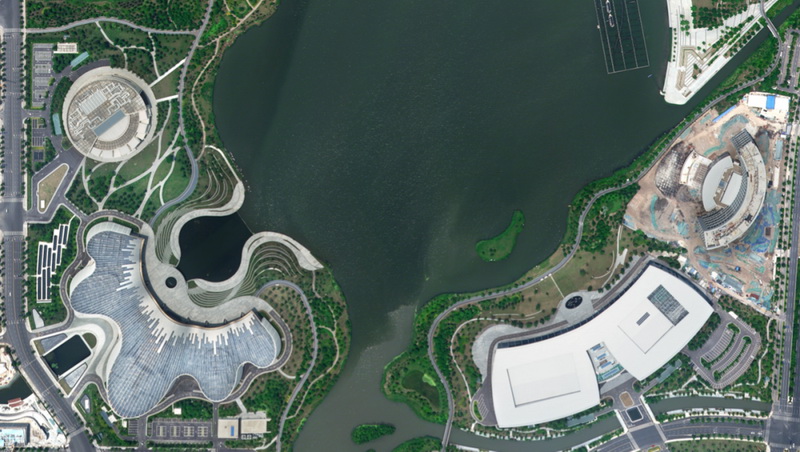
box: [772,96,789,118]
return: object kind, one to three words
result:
building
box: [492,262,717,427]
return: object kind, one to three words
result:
building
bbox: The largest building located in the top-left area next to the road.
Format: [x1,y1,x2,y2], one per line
[62,65,159,162]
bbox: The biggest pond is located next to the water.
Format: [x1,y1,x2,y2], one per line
[178,209,252,282]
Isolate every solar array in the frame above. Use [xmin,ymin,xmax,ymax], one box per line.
[28,215,76,303]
